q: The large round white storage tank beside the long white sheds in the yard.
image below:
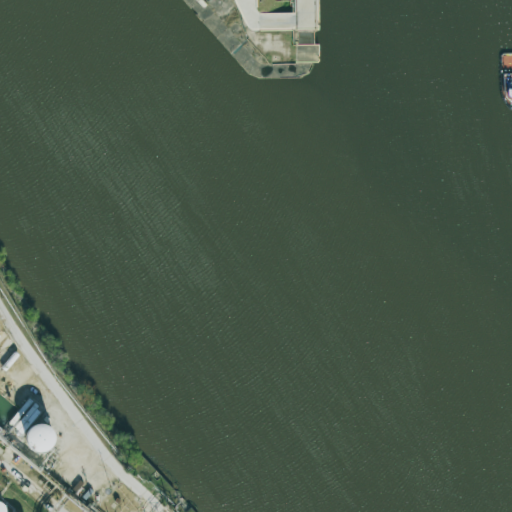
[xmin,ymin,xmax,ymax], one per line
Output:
[27,423,58,455]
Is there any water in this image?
Yes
